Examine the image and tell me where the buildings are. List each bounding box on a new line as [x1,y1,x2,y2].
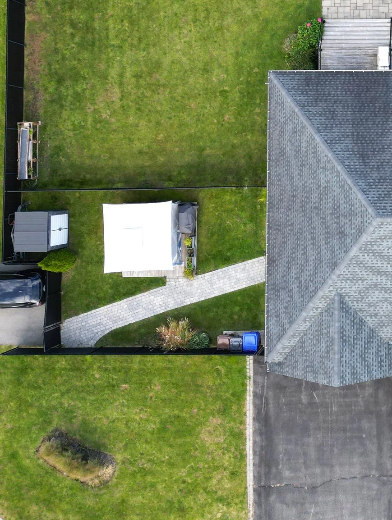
[10,210,69,251]
[263,68,392,387]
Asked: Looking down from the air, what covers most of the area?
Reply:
grass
